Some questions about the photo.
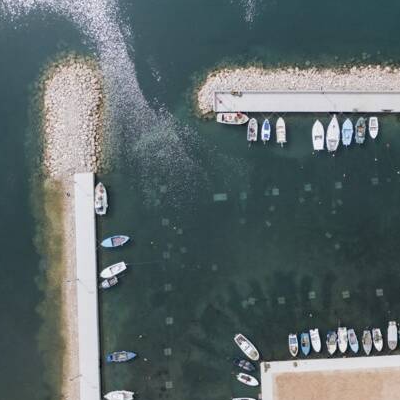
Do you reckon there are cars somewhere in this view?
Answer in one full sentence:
No, I find no car anywhere in the image.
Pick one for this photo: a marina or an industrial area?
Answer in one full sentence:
The area seen from above is a marina.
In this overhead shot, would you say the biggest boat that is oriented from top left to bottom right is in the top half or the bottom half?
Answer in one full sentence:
Seen from above, the biggest boat that is oriented from top left to bottom right lies in the bottom half of the view.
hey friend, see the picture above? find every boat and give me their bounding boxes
[368,115,378,139]
[102,276,120,285]
[310,326,321,352]
[347,328,358,355]
[232,359,255,369]
[94,179,106,213]
[260,112,274,142]
[371,328,382,356]
[324,112,343,153]
[337,319,348,353]
[97,234,130,247]
[355,112,367,145]
[324,331,337,359]
[300,333,310,359]
[100,261,127,276]
[246,114,258,142]
[235,371,259,385]
[288,332,299,361]
[341,114,353,146]
[362,330,372,356]
[311,119,324,151]
[387,319,398,349]
[103,388,136,400]
[217,112,253,124]
[272,112,286,144]
[104,351,137,363]
[233,333,259,360]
